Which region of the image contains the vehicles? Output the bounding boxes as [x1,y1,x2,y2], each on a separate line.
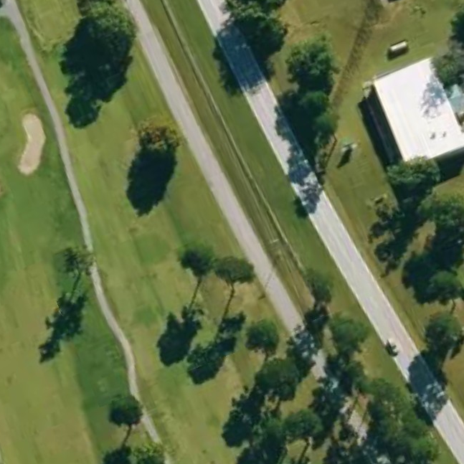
[387,335,399,352]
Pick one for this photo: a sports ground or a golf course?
golf course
